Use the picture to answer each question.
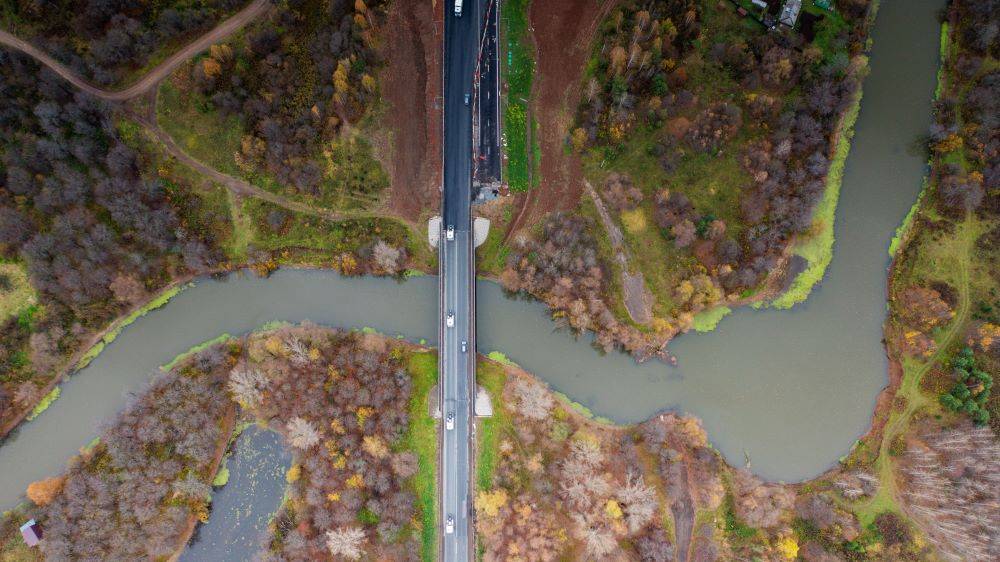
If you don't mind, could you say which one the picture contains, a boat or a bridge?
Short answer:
bridge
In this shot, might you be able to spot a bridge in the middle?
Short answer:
Yes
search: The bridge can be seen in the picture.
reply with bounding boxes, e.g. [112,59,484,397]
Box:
[439,221,476,400]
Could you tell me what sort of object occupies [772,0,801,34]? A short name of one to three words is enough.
house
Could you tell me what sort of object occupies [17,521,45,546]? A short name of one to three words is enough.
shed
